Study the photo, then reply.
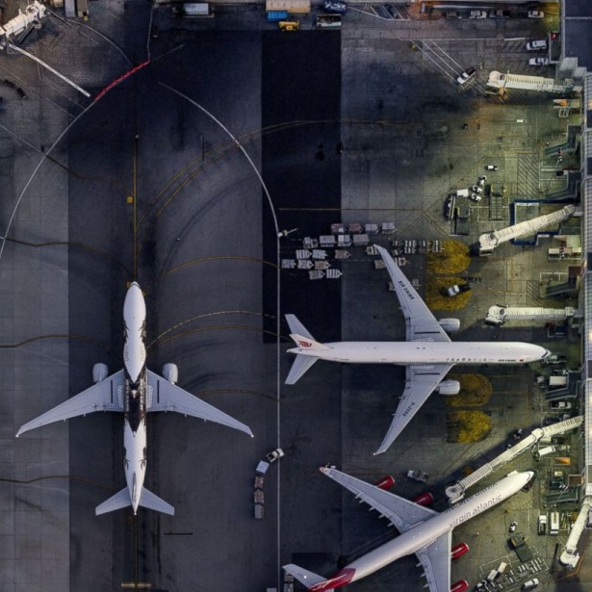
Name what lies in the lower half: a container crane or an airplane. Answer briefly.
airplane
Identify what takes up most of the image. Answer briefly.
paved ground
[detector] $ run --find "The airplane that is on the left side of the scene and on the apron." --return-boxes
[16,284,253,516]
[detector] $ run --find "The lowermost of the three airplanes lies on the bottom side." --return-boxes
[283,467,532,592]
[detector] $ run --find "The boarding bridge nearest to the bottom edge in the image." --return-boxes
[559,497,592,574]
